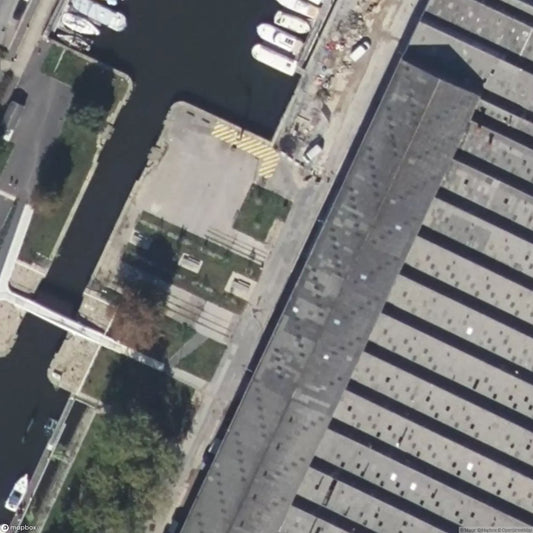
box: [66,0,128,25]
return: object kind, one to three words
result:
ship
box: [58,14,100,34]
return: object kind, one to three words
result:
boat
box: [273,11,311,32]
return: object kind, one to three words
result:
boat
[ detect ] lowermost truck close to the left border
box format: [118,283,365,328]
[2,100,24,139]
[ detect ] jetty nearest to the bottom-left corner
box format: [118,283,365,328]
[4,445,54,533]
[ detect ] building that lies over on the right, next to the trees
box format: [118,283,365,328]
[176,0,533,533]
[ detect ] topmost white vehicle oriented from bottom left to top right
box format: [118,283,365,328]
[350,40,368,62]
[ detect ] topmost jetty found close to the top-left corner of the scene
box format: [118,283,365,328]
[46,0,71,34]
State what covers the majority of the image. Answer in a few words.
buildings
